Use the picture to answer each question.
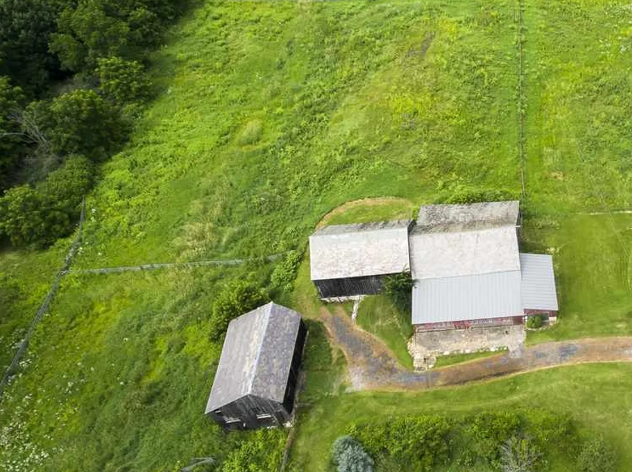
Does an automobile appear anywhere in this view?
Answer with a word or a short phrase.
No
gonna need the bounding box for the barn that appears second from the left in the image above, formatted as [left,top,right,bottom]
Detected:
[310,219,412,303]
